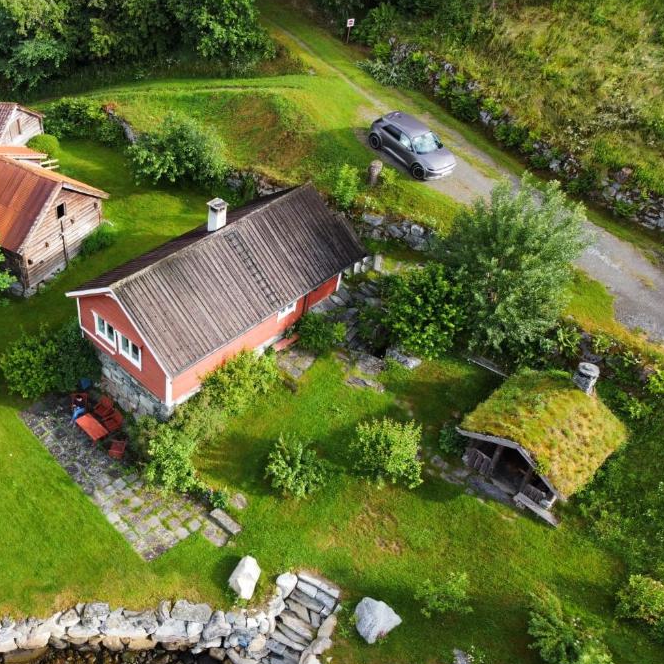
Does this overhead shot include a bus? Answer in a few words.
No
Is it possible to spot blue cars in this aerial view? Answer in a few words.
No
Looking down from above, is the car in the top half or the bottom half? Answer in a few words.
top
